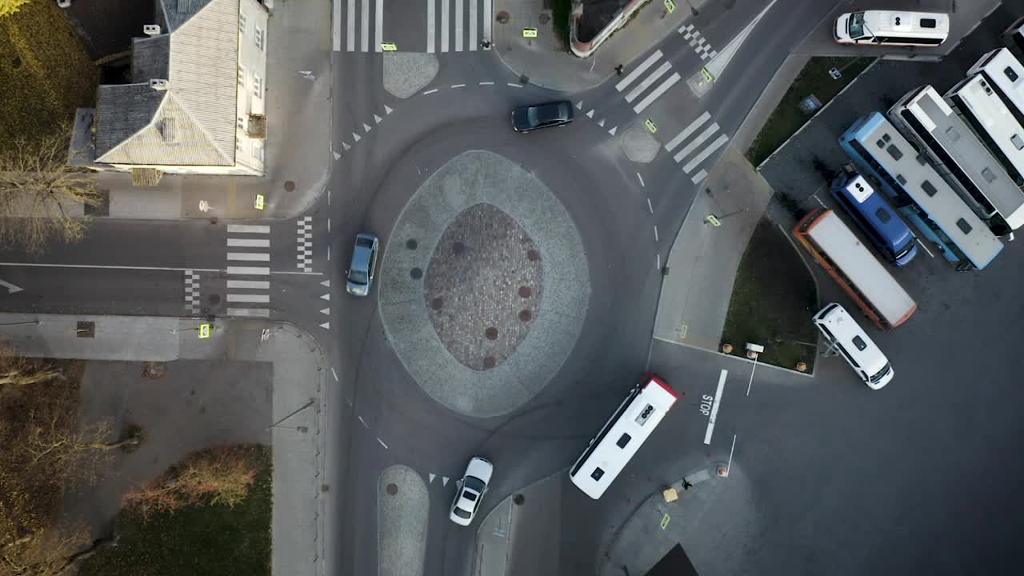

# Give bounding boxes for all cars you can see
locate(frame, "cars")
[345,234,380,296]
[449,455,492,525]
[510,100,575,133]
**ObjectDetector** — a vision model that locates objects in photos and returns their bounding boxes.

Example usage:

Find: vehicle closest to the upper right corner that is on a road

[985,17,1024,65]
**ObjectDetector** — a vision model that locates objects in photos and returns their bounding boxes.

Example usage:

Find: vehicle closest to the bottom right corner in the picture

[808,301,887,390]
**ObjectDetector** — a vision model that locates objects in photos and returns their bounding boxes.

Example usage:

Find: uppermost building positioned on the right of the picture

[568,0,663,59]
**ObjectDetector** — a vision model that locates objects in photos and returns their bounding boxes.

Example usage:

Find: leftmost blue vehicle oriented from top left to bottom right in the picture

[827,170,913,263]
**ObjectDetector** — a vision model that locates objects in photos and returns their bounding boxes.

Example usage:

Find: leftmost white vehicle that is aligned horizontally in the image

[831,7,953,50]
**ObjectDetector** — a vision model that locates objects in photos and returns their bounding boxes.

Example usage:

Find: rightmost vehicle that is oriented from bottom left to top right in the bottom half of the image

[569,367,683,497]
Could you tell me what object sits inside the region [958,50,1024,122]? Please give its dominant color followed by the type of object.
white bus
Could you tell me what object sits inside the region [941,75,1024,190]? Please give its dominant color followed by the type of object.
white bus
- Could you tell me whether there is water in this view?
No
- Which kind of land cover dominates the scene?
paved ground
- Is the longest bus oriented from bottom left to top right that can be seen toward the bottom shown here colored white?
Yes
